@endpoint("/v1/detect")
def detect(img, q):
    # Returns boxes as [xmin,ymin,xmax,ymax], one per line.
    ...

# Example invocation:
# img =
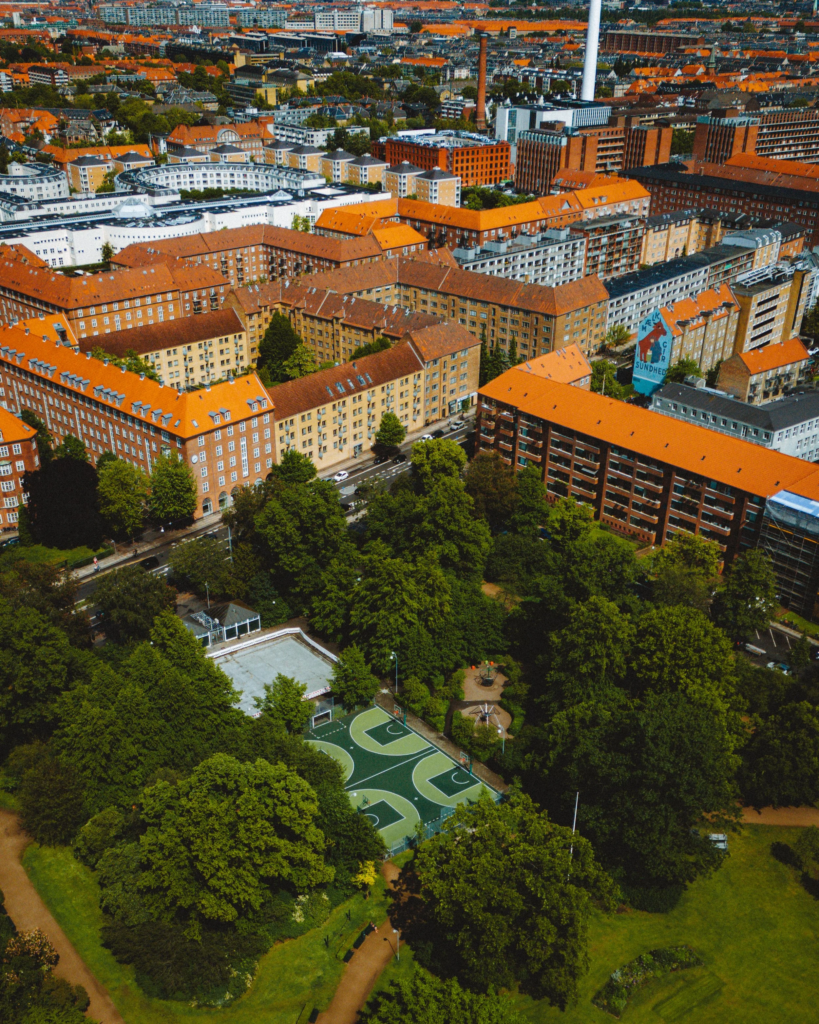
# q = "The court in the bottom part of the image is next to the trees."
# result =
[279,702,509,857]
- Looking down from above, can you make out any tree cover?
Yes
